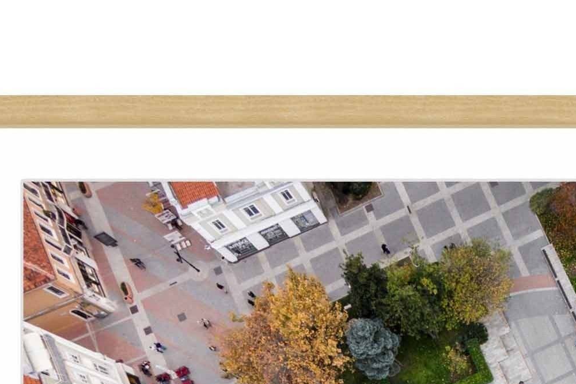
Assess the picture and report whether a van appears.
No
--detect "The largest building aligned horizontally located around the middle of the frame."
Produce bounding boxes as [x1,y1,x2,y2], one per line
[153,181,327,265]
